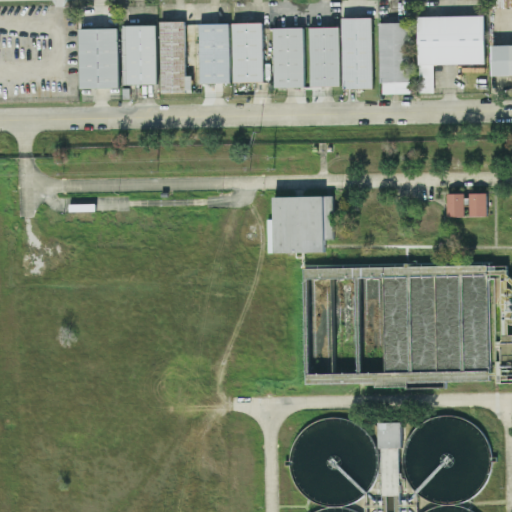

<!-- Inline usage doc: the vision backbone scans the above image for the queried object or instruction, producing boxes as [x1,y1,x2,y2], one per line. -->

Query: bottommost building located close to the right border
[446,194,488,218]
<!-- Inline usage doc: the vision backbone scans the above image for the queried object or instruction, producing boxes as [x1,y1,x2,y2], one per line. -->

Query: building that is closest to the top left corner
[78,28,120,90]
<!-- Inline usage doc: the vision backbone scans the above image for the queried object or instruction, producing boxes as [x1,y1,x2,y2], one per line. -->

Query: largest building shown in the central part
[266,196,336,254]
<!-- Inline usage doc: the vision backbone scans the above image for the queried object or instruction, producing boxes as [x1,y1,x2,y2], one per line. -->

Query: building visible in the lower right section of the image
[377,422,402,448]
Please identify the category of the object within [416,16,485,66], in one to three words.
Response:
building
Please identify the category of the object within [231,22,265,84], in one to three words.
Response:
building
